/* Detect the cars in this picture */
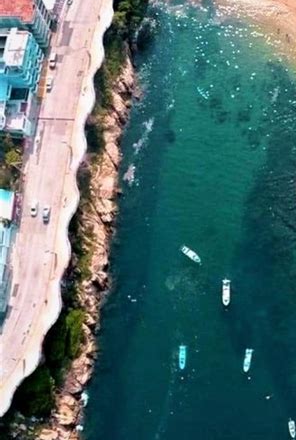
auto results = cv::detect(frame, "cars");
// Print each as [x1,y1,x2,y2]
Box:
[47,79,53,90]
[43,208,50,220]
[32,202,38,216]
[49,52,57,67]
